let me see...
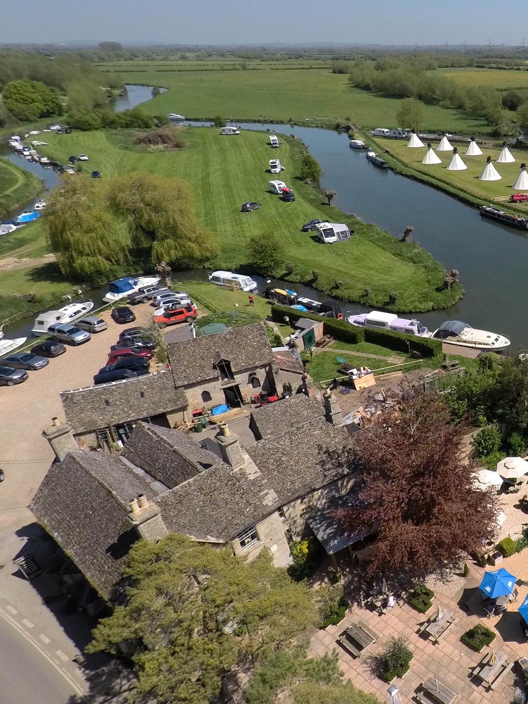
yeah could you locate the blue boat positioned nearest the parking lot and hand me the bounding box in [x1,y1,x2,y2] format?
[102,274,159,302]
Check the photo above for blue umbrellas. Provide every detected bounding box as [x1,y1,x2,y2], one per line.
[517,594,528,628]
[478,570,517,603]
